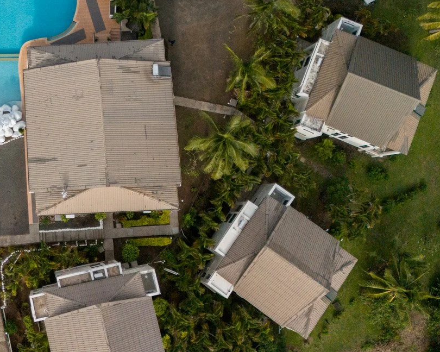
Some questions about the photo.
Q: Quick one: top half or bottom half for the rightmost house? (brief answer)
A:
top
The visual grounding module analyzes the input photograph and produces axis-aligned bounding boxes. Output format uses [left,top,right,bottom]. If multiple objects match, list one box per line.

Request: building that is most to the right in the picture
[282,17,438,158]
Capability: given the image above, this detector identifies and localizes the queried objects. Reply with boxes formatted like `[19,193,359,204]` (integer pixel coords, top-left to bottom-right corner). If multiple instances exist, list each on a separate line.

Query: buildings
[29,259,169,352]
[24,39,183,218]
[282,17,438,158]
[201,184,357,338]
